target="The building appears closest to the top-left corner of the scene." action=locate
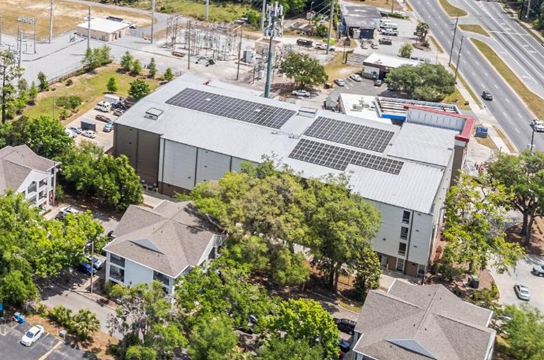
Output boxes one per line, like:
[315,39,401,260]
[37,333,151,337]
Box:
[75,18,134,45]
